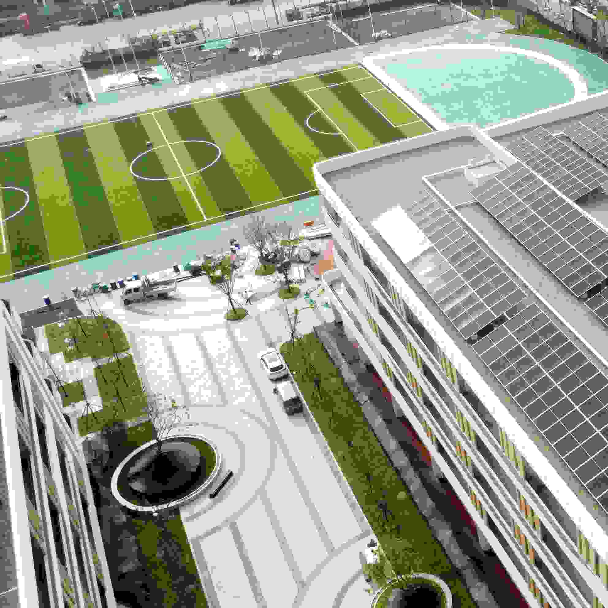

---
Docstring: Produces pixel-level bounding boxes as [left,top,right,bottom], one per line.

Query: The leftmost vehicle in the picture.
[117,268,177,303]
